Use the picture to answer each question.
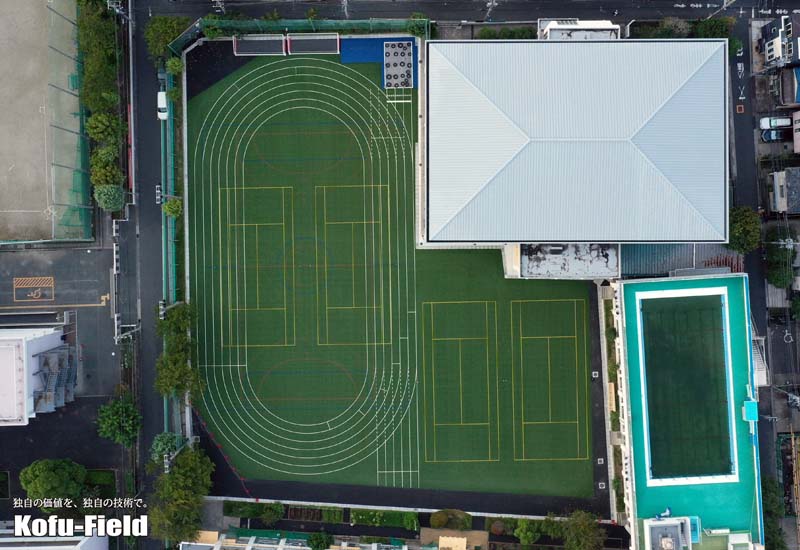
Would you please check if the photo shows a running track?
Yes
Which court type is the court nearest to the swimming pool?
tennis court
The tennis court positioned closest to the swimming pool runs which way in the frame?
up and down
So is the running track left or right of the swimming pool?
to its left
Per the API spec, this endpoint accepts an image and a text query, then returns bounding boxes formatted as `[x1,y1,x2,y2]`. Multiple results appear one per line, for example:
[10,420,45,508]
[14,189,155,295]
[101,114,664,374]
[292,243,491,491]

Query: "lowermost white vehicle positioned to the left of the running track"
[157,91,170,122]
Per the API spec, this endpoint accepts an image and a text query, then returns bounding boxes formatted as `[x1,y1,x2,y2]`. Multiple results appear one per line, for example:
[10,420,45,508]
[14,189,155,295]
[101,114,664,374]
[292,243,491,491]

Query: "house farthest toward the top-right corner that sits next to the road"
[763,8,800,66]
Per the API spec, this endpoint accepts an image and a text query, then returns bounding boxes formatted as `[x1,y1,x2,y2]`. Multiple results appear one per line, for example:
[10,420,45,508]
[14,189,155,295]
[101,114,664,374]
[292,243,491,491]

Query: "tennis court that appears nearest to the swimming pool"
[511,299,589,461]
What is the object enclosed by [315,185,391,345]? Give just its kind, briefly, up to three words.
tennis court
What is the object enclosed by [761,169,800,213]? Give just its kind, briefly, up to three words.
house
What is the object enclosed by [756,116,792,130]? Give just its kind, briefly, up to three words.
vehicle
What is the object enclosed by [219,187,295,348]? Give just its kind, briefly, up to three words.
tennis court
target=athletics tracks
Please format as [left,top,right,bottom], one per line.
[195,57,419,486]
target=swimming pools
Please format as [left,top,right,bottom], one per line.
[634,287,740,487]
